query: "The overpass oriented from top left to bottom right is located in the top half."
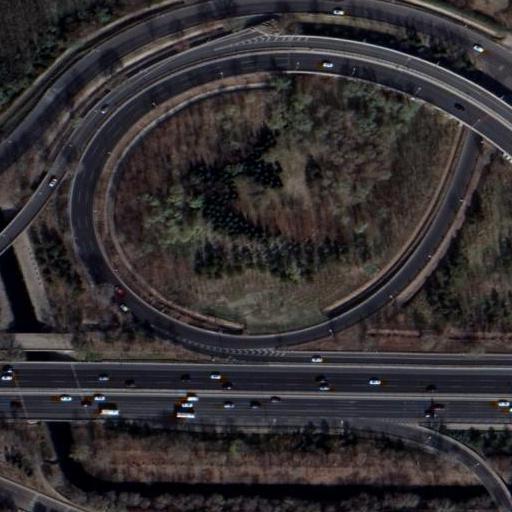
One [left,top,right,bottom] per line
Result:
[429,66,512,159]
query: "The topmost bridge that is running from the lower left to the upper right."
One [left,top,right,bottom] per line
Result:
[0,170,54,252]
